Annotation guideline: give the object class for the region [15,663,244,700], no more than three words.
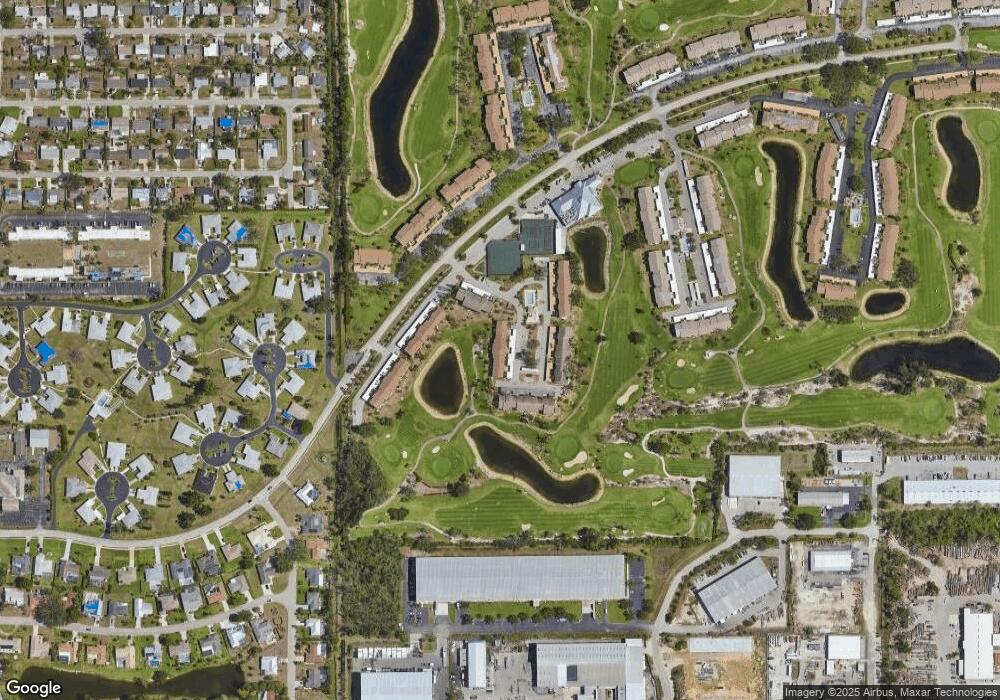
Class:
pond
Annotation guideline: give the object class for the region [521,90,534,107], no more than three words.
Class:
swimming pool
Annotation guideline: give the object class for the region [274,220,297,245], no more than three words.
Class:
house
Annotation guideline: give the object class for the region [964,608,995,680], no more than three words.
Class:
building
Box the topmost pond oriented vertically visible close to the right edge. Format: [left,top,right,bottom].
[938,115,981,212]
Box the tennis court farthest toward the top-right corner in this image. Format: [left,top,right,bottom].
[520,219,556,255]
